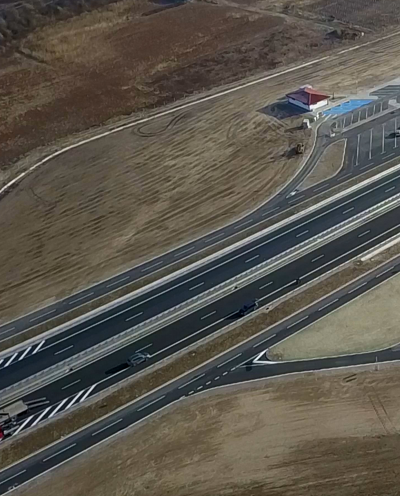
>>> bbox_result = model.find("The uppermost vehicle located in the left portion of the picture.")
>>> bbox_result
[125,352,149,368]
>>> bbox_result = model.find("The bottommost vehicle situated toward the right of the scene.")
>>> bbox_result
[236,301,257,315]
